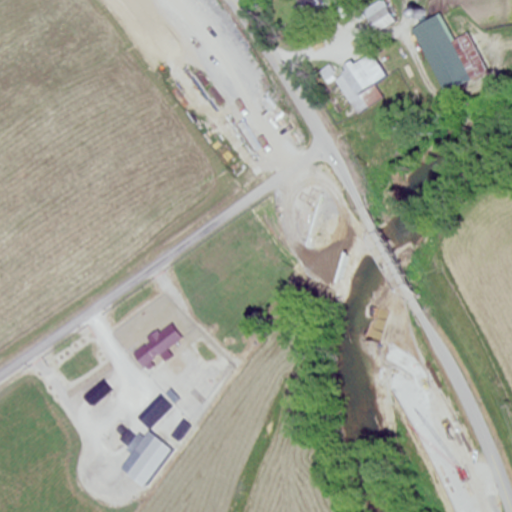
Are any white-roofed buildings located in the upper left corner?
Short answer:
No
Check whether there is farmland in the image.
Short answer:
Yes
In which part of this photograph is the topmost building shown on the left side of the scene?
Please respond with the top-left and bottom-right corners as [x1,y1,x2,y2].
[135,322,183,368]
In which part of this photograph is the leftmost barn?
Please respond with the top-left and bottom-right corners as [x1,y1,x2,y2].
[84,379,112,406]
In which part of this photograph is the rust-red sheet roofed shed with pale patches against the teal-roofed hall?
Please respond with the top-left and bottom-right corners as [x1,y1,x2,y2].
[454,34,486,78]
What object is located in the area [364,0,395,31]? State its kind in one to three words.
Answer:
barn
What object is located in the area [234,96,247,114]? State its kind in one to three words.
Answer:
vehicle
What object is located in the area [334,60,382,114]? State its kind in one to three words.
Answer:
house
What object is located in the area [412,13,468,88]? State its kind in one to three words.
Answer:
building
